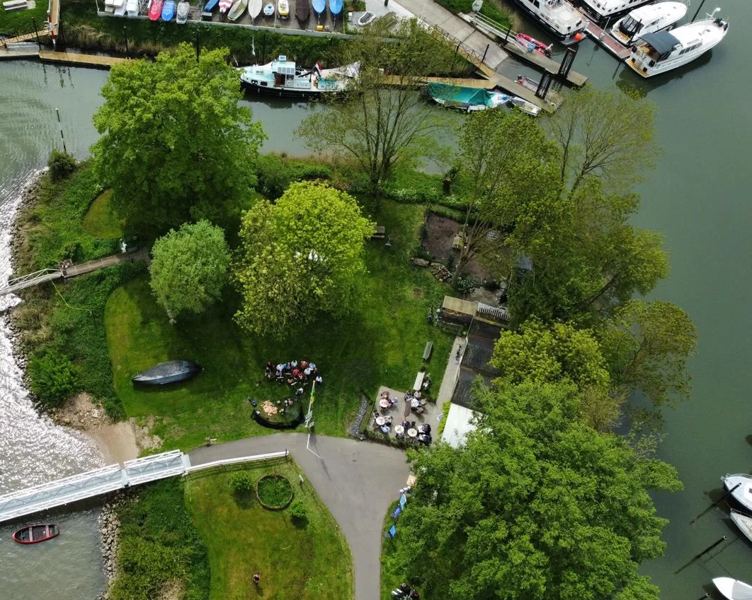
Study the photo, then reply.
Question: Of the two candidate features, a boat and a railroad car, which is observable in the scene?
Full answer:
The image shows a boat.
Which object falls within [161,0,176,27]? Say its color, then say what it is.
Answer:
blue boat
